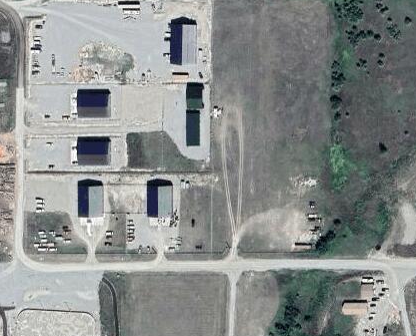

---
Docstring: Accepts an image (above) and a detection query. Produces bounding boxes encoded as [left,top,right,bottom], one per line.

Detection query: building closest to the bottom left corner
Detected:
[77,185,104,217]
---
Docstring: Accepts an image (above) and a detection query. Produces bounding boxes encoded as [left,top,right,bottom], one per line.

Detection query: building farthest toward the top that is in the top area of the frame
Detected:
[170,20,197,64]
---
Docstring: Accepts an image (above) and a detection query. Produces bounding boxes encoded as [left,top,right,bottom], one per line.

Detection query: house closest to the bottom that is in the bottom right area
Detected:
[341,302,367,315]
